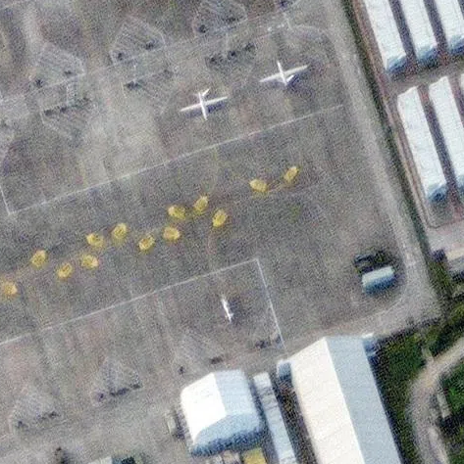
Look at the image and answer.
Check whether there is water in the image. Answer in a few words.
No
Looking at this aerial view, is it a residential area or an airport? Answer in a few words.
airport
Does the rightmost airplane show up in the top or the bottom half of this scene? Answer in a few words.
top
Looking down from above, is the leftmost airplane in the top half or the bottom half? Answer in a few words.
top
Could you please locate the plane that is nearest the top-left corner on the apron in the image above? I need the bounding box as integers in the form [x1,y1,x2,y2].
[179,92,226,119]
